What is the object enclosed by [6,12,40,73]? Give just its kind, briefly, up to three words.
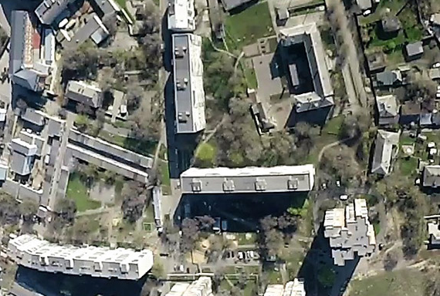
building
